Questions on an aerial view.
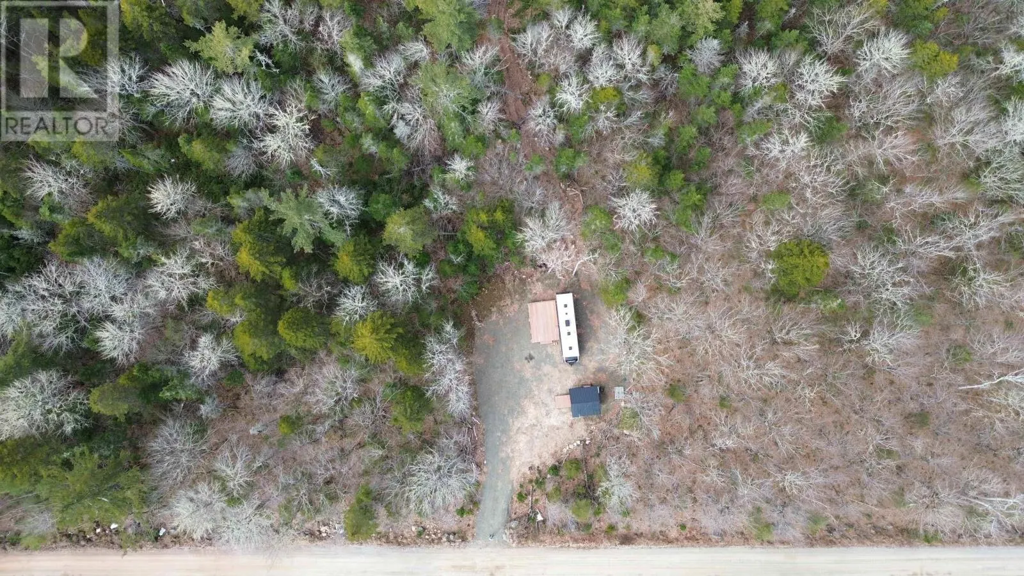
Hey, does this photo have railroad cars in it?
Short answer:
No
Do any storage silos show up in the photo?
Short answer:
No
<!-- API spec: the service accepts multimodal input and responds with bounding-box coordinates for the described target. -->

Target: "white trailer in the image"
[555,290,579,369]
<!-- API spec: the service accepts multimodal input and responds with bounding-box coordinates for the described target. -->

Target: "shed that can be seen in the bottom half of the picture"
[569,386,601,417]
